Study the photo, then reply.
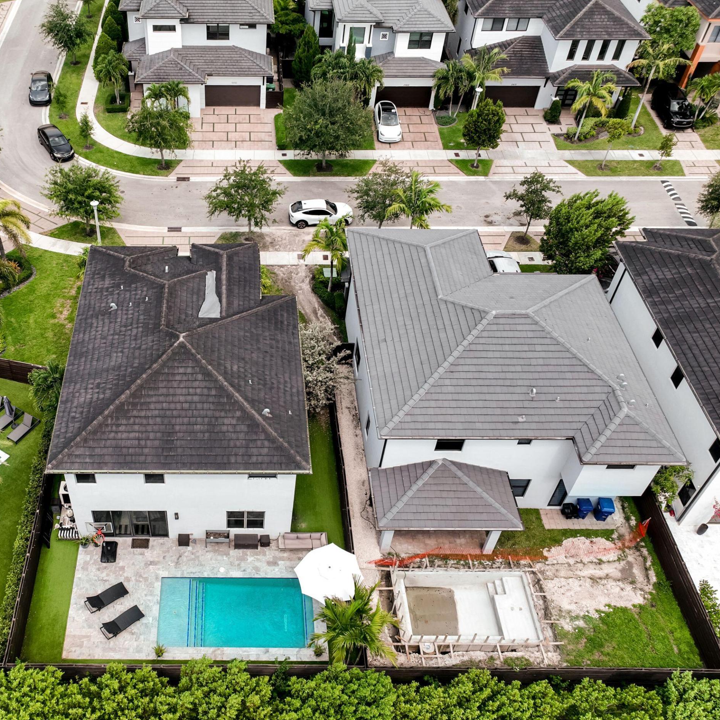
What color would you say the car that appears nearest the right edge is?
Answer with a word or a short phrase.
black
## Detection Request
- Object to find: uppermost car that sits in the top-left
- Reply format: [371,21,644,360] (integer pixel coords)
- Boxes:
[29,71,56,101]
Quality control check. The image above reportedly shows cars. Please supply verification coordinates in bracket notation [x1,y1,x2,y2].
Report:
[486,246,519,273]
[29,71,56,101]
[35,122,71,159]
[647,80,696,125]
[372,101,400,137]
[289,199,353,228]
